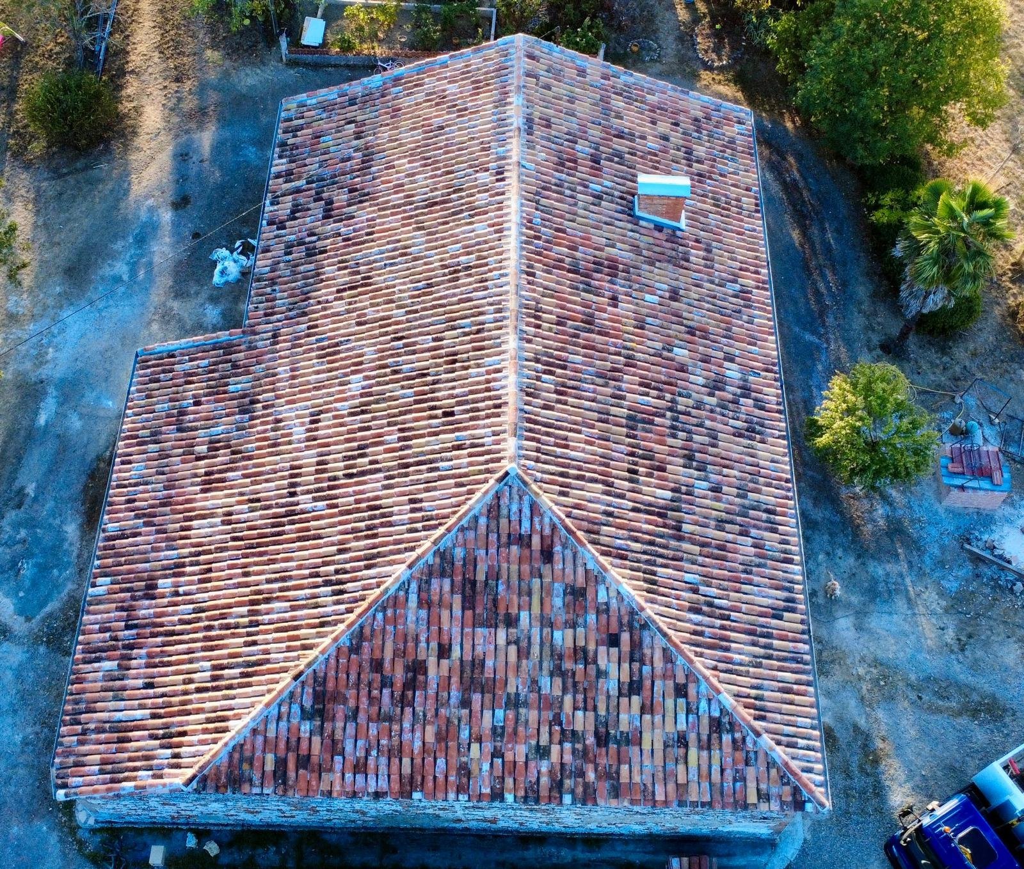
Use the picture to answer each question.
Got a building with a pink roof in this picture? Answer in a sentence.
No, I can see no building with a pink roof in this picture.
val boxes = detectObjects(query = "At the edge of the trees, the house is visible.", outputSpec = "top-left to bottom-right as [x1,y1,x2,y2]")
[44,29,835,845]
